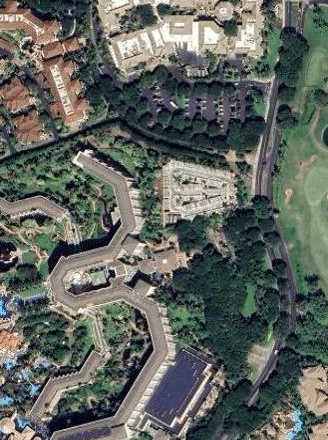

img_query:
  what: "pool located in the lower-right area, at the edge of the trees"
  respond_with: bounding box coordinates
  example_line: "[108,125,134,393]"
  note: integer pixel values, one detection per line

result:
[285,409,303,440]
